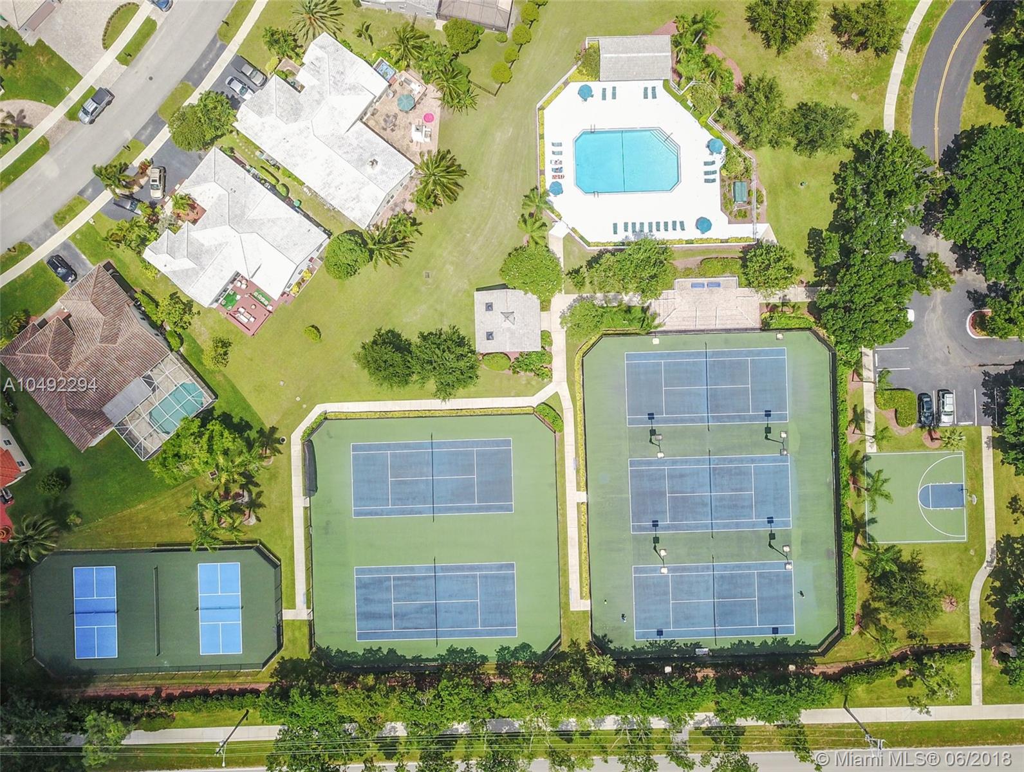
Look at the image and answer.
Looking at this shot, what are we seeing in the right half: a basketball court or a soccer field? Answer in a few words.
basketball court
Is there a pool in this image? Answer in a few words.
Yes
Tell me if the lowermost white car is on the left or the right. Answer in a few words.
right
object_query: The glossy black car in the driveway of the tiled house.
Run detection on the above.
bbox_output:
[47,253,79,285]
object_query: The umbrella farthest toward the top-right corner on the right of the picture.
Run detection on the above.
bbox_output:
[706,140,722,156]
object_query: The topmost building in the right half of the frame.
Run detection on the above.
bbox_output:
[600,36,671,87]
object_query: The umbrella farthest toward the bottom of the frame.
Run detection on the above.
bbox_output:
[694,218,710,234]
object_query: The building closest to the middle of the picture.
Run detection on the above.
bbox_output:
[474,290,541,353]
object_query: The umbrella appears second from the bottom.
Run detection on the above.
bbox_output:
[548,181,564,198]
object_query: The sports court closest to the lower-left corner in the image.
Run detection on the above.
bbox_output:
[68,566,119,659]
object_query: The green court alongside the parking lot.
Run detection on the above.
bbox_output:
[864,451,968,544]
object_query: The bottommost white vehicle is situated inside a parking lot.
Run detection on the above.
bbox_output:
[935,391,955,423]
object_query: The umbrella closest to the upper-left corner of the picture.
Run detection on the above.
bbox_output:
[397,94,415,112]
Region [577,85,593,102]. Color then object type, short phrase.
blue umbrella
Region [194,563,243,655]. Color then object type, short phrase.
blue sports court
